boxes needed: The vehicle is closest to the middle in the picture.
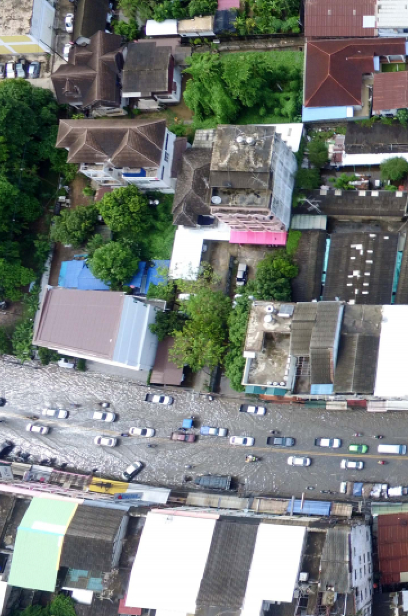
[236,262,249,286]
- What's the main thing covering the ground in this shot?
buildings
